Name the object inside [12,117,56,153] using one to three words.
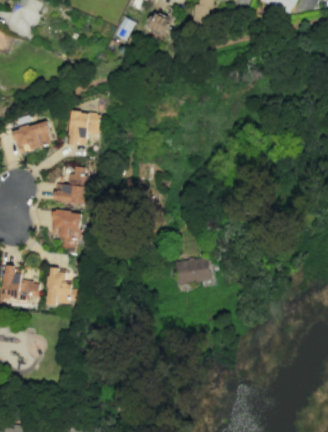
house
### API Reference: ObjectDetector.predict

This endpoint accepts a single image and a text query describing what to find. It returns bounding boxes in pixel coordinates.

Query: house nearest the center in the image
[178,258,214,284]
